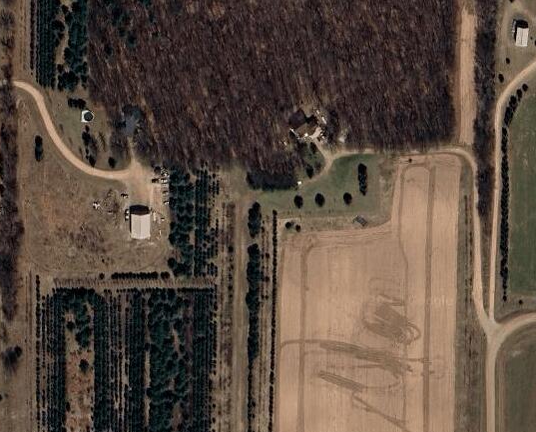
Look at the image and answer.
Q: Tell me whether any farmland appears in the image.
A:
Yes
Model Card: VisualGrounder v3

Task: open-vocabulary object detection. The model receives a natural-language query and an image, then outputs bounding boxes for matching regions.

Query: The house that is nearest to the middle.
[287,109,320,136]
